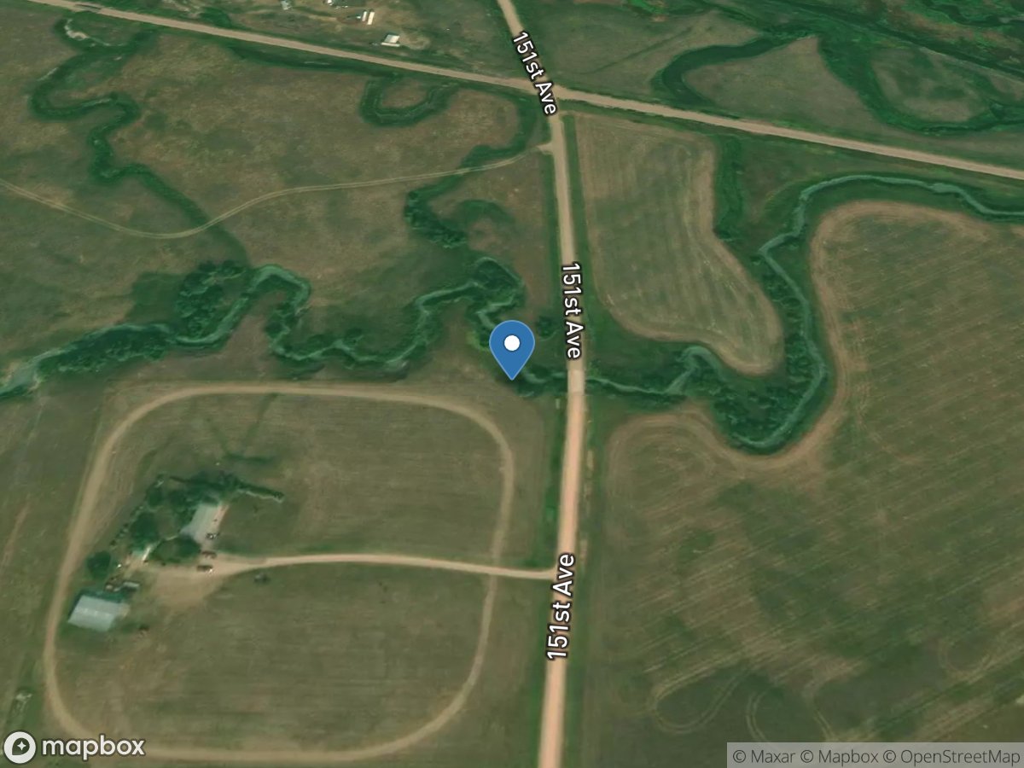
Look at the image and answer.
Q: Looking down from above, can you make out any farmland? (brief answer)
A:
Yes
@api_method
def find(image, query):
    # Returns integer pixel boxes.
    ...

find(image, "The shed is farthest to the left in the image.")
[67,592,122,632]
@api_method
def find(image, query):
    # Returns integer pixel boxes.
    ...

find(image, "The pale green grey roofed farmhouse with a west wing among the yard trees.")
[179,502,222,543]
